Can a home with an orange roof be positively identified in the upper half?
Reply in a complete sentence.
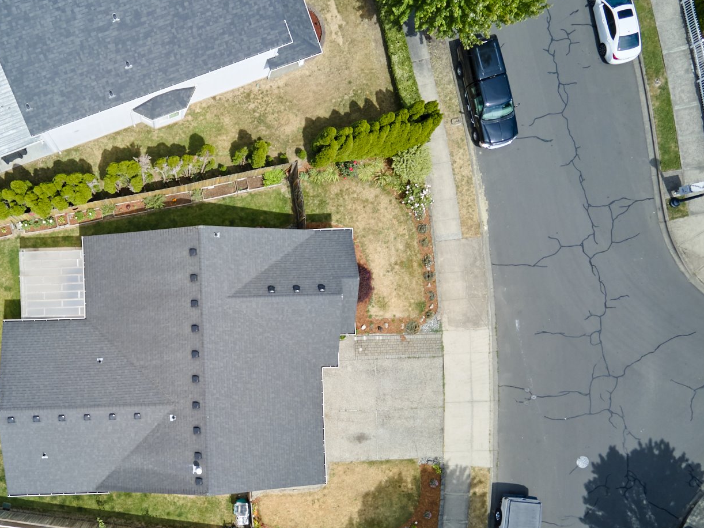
No, there is no home with an orange roof in the upper half.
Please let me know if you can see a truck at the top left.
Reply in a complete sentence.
No, there's no truck to be seen at the top left.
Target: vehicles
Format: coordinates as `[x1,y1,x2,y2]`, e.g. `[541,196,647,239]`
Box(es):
[492,486,539,528]
[457,36,522,153]
[585,0,640,67]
